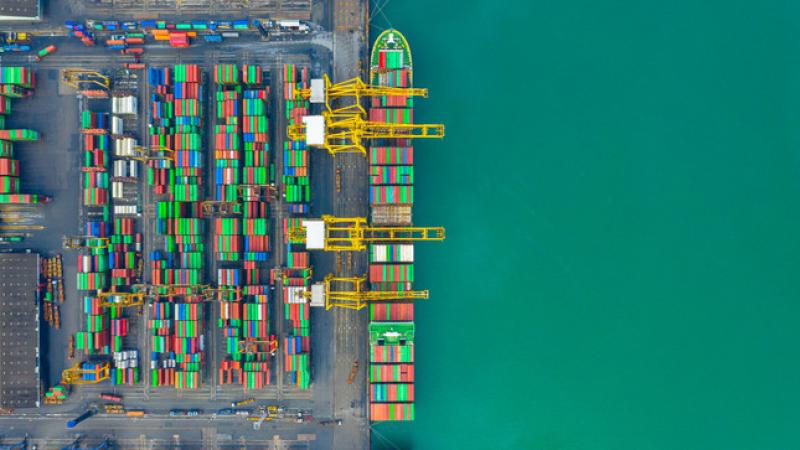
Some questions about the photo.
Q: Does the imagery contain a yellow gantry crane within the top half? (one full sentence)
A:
Yes, within the top half there is a yellow gantry crane.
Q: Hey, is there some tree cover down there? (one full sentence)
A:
No, there is no tree cover in the image.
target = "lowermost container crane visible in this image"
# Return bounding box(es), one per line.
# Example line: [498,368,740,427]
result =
[62,363,111,384]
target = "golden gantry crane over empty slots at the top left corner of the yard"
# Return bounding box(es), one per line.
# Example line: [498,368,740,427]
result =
[62,71,111,90]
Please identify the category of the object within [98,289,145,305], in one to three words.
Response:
container crane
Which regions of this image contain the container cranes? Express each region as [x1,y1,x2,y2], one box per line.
[202,200,245,215]
[62,234,111,249]
[294,271,428,309]
[98,289,145,305]
[62,363,111,384]
[288,110,444,160]
[173,281,216,298]
[238,334,279,353]
[270,265,313,281]
[237,185,279,200]
[62,71,111,90]
[288,212,444,255]
[294,76,428,120]
[202,284,245,301]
